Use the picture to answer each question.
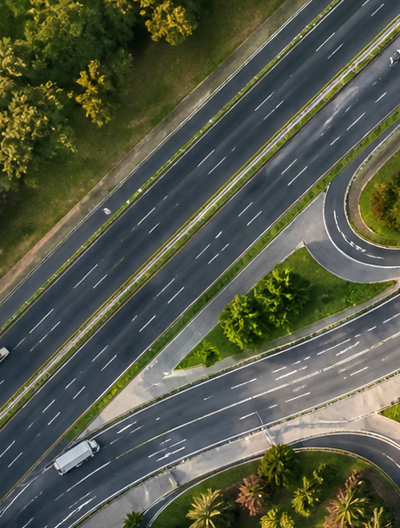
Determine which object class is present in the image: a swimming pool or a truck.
truck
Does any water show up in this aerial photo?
No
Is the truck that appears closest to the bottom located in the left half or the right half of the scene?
left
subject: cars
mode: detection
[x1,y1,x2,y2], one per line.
[0,346,9,363]
[389,46,400,64]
